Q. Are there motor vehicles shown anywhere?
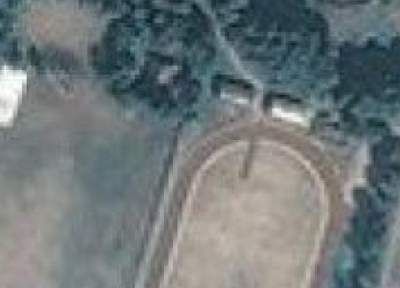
No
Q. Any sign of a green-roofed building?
No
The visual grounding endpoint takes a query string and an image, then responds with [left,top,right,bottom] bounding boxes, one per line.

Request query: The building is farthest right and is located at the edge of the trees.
[270,91,317,125]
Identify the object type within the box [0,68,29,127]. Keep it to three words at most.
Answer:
building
